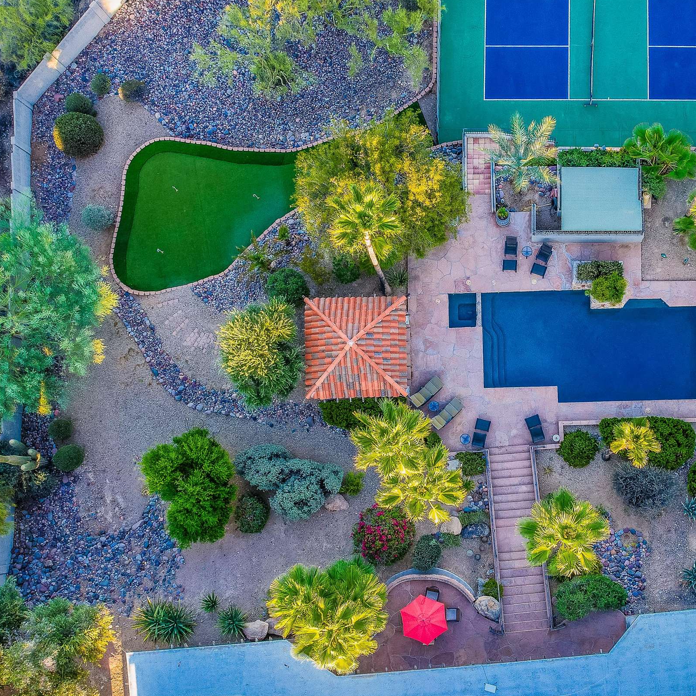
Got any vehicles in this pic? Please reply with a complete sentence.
No, this view has no vehicle in it.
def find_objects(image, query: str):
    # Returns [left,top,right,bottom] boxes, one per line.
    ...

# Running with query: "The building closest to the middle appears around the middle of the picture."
[301,294,413,404]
